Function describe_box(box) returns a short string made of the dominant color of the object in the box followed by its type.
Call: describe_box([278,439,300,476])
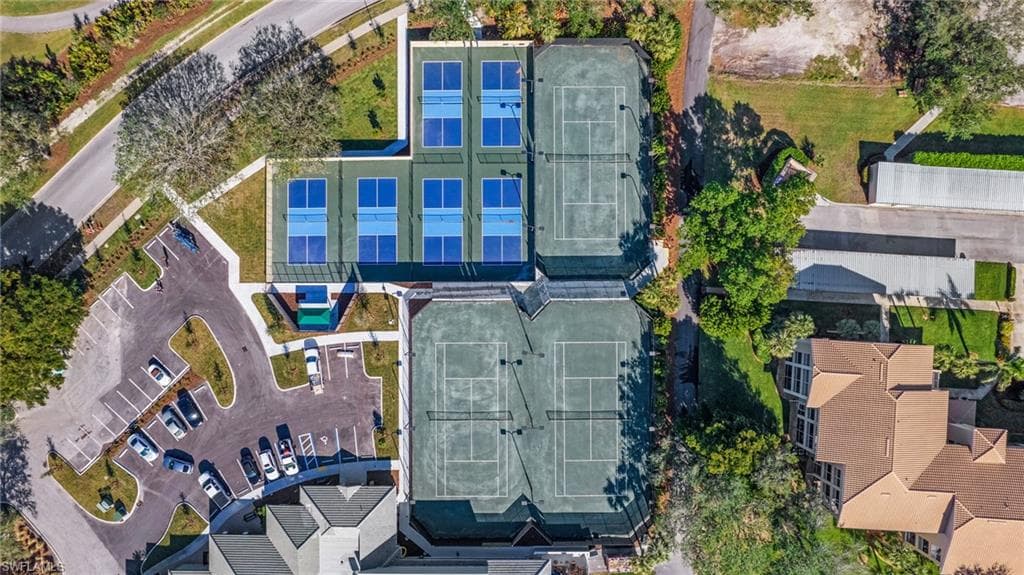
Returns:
white truck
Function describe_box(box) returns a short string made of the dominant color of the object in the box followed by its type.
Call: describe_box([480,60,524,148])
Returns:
blue sports court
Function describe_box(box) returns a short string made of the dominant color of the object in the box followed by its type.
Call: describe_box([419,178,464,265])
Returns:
blue sports court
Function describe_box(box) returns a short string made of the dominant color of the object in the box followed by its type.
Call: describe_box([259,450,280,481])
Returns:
white car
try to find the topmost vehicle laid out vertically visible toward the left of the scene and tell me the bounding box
[305,348,323,392]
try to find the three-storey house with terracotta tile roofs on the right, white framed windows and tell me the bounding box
[786,337,1024,575]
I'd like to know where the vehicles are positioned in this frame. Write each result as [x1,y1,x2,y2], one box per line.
[305,348,323,392]
[259,450,280,481]
[240,453,263,484]
[128,432,159,460]
[163,455,196,475]
[159,409,187,439]
[200,471,233,509]
[177,395,204,428]
[278,439,300,476]
[147,362,173,388]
